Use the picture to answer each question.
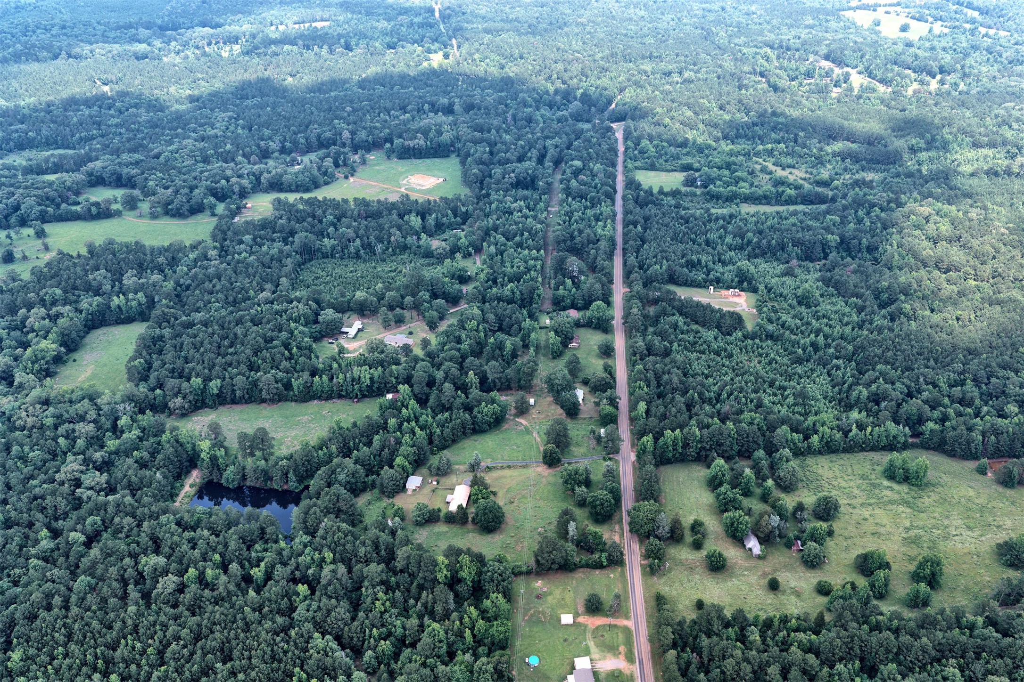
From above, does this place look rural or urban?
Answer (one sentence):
From above, the setting appears rural.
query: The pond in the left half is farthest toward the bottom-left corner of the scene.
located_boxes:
[186,481,314,551]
